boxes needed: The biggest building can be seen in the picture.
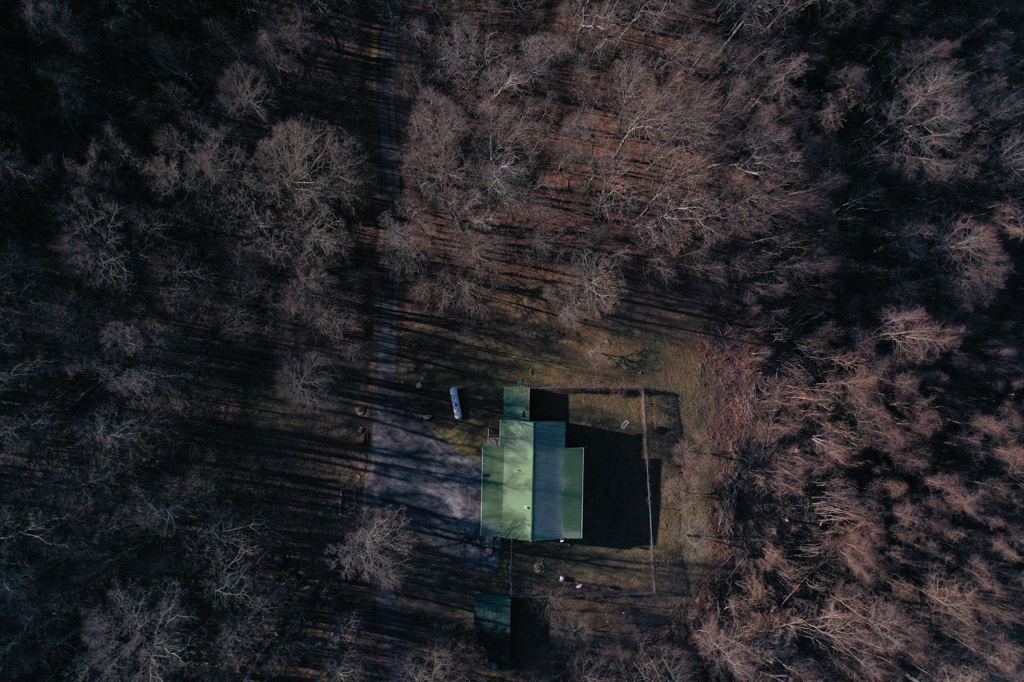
[480,386,585,542]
